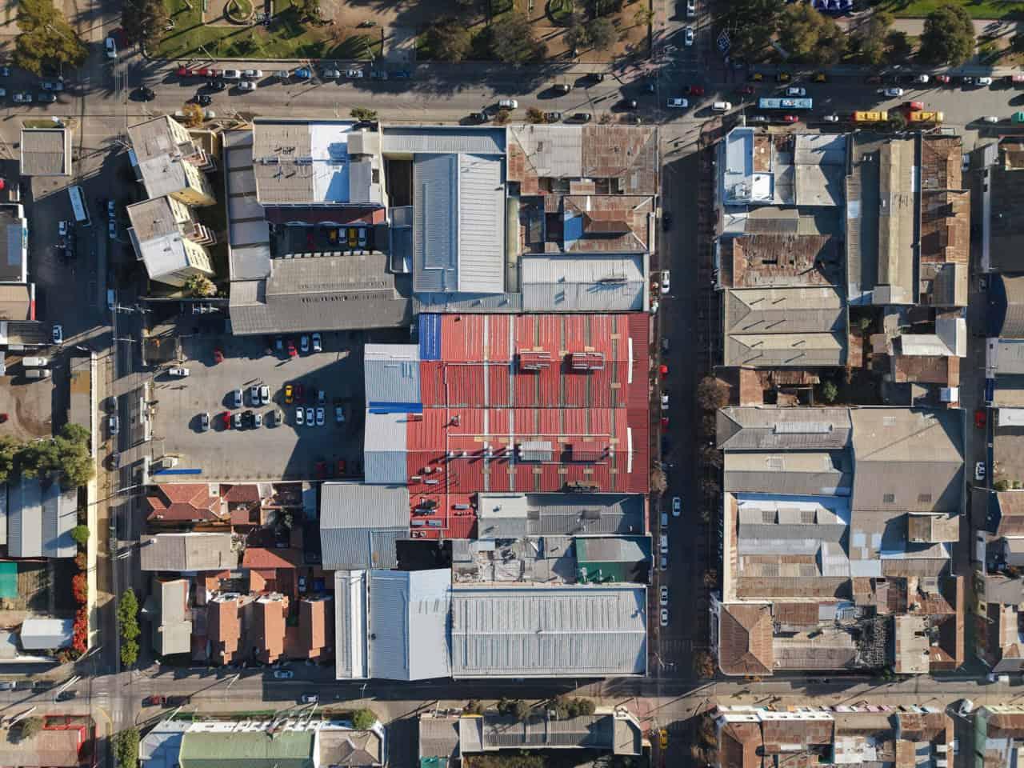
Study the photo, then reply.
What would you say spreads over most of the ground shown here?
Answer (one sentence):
The scene is dominated by buildings.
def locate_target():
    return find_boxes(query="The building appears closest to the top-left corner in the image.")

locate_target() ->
[20,128,78,181]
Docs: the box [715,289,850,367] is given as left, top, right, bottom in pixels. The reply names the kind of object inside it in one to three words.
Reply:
building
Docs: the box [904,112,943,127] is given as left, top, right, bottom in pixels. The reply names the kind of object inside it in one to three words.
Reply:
vehicle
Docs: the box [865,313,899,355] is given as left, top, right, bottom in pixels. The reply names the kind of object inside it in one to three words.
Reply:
shed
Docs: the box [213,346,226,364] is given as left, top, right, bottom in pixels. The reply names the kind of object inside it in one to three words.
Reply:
vehicle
